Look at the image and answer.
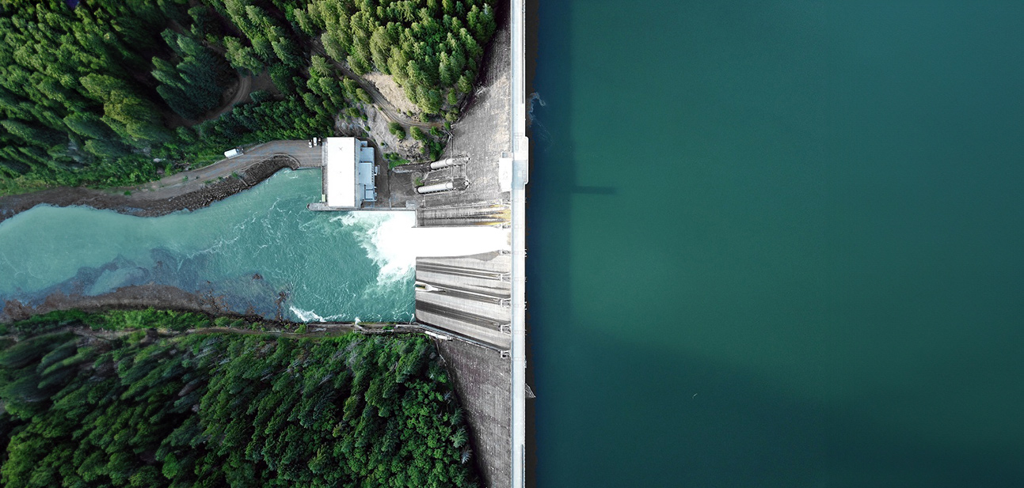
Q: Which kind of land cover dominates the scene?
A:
water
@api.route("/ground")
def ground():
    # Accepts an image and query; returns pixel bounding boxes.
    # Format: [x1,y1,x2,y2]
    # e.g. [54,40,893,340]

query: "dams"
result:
[409,0,540,488]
